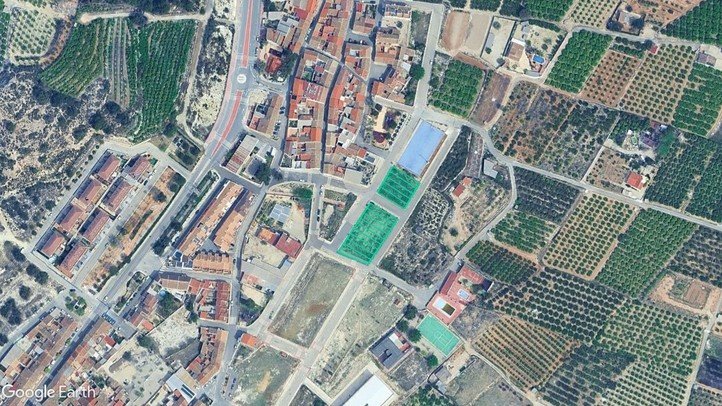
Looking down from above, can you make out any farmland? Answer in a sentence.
Yes, there's farmland in this view.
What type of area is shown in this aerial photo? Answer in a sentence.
It's a residential area.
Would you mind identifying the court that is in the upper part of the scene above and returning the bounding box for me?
[395,119,450,178]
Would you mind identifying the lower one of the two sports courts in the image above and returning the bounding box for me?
[415,314,465,359]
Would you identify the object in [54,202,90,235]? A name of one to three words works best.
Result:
house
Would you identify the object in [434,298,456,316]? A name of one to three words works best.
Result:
swimming pool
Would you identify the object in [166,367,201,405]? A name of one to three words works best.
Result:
building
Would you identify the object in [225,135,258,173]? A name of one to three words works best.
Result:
building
